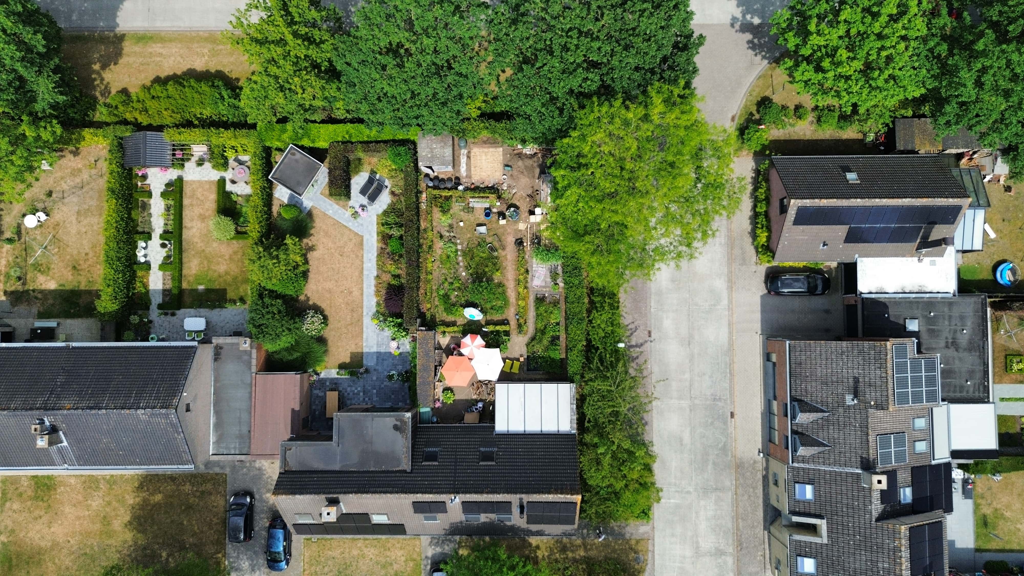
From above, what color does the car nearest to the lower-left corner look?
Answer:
black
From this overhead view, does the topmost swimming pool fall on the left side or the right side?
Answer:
right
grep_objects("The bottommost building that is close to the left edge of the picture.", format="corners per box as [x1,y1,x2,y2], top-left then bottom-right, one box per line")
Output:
[0,340,213,471]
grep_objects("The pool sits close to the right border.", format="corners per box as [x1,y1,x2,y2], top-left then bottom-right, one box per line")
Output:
[986,258,1023,291]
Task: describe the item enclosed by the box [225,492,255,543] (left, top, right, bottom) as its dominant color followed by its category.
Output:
black car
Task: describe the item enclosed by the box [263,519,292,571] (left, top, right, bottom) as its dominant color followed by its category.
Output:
blue car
